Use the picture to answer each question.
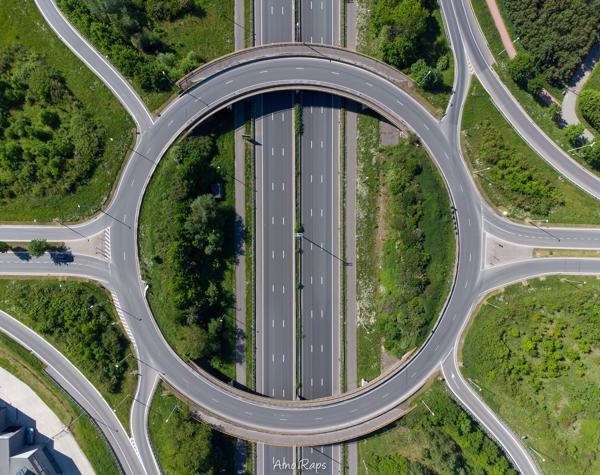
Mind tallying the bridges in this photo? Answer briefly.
2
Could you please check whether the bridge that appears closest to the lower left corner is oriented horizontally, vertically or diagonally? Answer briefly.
horizontally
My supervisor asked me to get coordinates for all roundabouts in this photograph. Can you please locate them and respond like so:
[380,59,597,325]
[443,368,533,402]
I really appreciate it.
[104,54,486,434]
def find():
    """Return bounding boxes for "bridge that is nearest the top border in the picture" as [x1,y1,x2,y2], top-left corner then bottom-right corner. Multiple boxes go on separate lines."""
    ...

[174,40,422,136]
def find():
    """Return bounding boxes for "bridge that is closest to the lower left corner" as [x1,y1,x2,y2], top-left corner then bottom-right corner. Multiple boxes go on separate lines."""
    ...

[176,346,418,447]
